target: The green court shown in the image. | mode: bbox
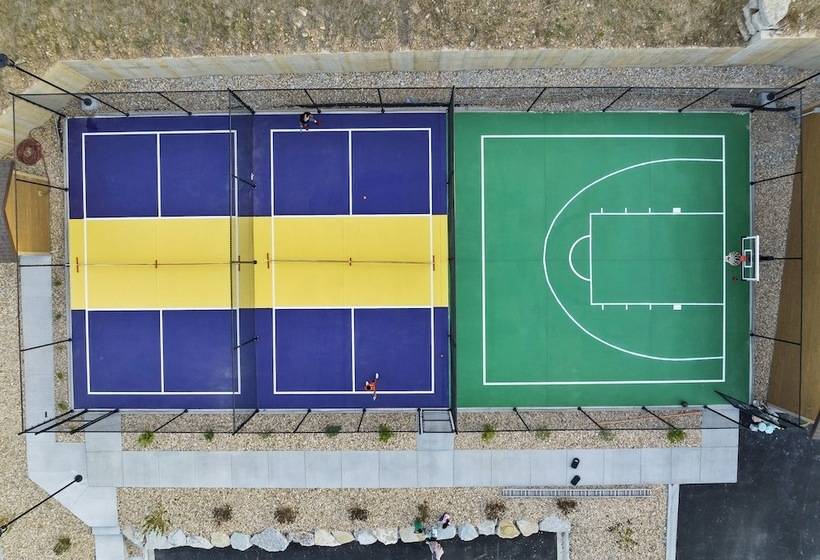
[456,112,750,407]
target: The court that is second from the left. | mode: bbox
[254,113,449,409]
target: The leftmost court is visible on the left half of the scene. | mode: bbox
[67,115,257,409]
